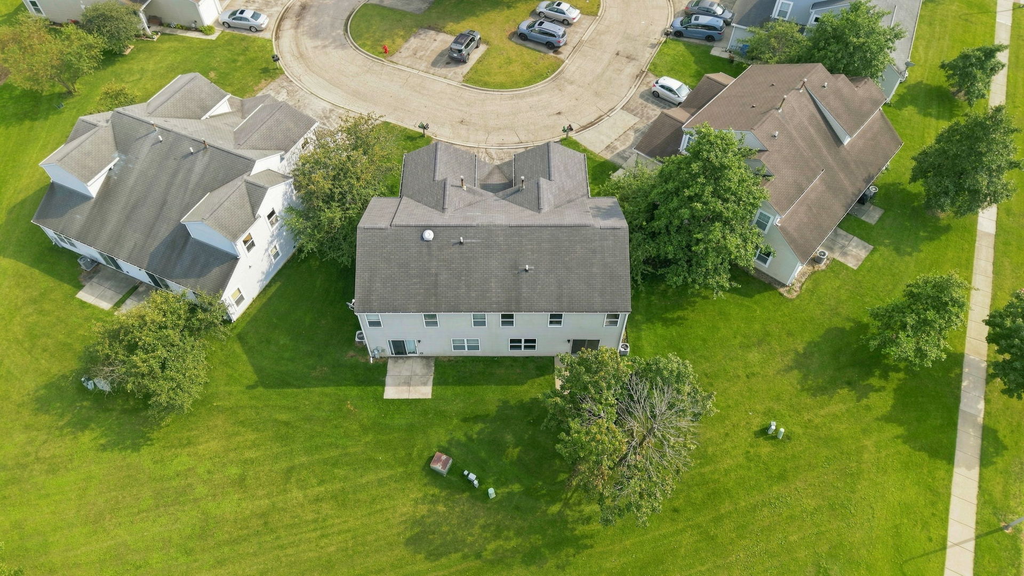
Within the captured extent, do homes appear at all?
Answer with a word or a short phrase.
Yes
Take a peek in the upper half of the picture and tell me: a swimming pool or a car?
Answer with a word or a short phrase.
car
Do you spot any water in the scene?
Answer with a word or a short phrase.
No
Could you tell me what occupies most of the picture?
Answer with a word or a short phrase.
grass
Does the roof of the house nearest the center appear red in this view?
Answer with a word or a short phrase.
No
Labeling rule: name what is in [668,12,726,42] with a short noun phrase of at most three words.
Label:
car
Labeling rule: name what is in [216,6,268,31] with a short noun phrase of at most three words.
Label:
car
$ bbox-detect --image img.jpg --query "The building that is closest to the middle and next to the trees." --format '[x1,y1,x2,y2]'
[342,140,633,364]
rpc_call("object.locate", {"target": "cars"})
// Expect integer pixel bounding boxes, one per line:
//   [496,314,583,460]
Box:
[533,0,583,25]
[647,72,694,105]
[668,12,726,42]
[515,17,569,50]
[446,31,482,65]
[690,0,736,25]
[216,6,268,31]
